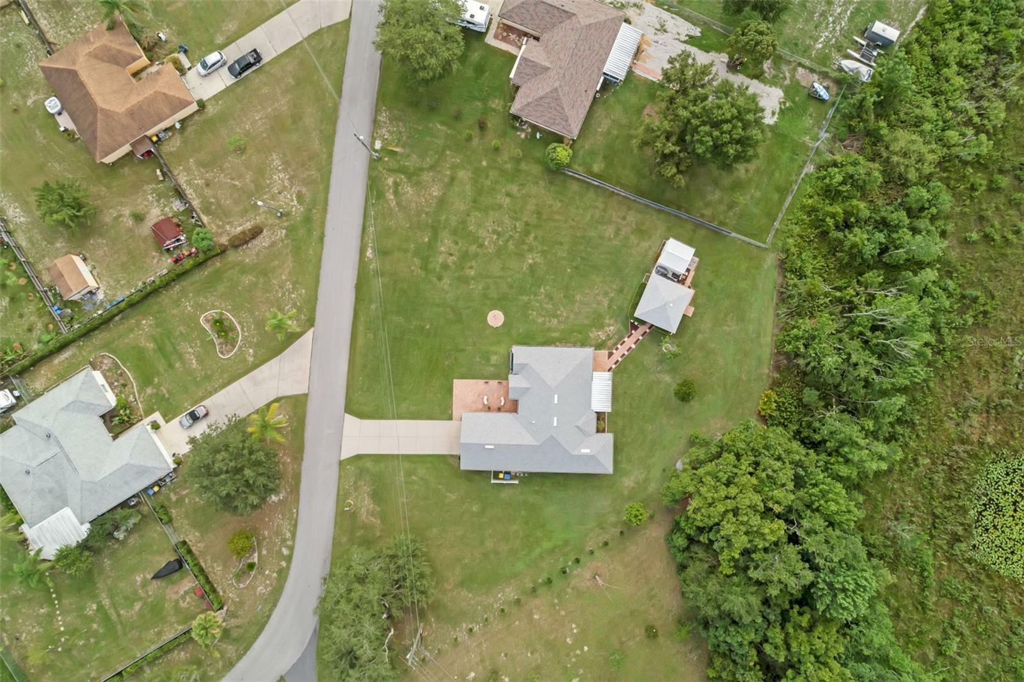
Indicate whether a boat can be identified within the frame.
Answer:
Yes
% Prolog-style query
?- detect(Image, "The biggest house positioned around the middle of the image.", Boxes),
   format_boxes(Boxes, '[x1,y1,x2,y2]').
[460,346,613,474]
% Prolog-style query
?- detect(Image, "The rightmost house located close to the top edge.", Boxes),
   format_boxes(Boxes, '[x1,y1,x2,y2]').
[498,0,643,141]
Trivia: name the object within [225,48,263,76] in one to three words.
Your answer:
vehicle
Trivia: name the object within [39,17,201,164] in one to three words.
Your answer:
house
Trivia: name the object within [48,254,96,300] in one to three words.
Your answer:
shed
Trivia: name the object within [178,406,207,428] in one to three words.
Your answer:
car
